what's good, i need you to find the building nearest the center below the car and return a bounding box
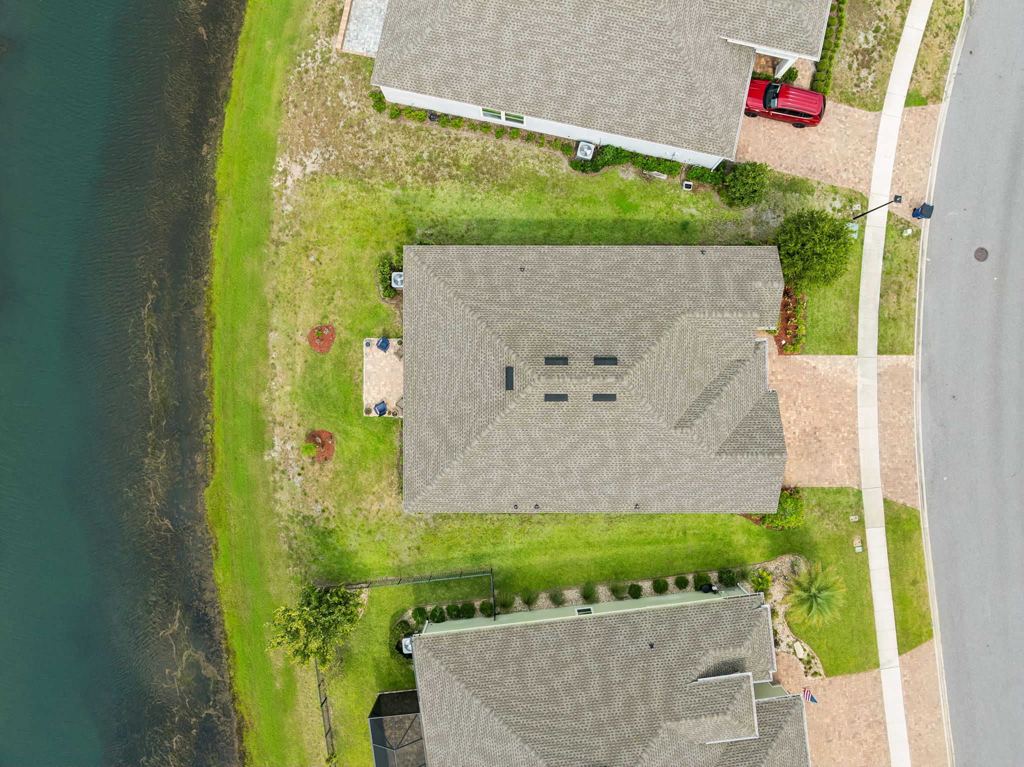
[402,244,788,514]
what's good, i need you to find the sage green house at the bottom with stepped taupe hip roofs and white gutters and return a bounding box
[413,584,814,767]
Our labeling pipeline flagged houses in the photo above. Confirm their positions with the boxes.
[413,584,814,767]
[371,0,835,170]
[402,244,788,514]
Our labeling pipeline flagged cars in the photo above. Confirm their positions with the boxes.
[746,77,827,129]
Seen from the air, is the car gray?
No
